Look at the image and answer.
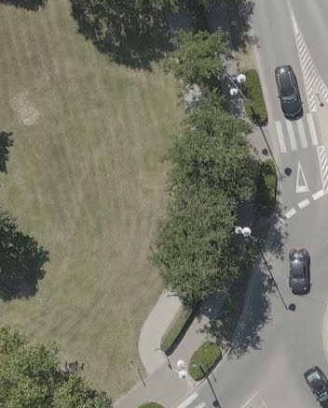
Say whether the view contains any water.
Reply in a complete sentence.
No, water can't be seen anywhere here.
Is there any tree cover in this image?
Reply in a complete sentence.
Yes, tree cover can be seen from above here.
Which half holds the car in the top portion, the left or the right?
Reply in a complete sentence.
The car in the top portion sits on the right side.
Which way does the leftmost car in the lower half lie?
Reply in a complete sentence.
The leftmost car in the lower half runs from top to bottom in the image.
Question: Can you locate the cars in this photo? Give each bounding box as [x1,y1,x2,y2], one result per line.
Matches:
[302,364,328,408]
[274,63,305,123]
[287,247,312,295]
